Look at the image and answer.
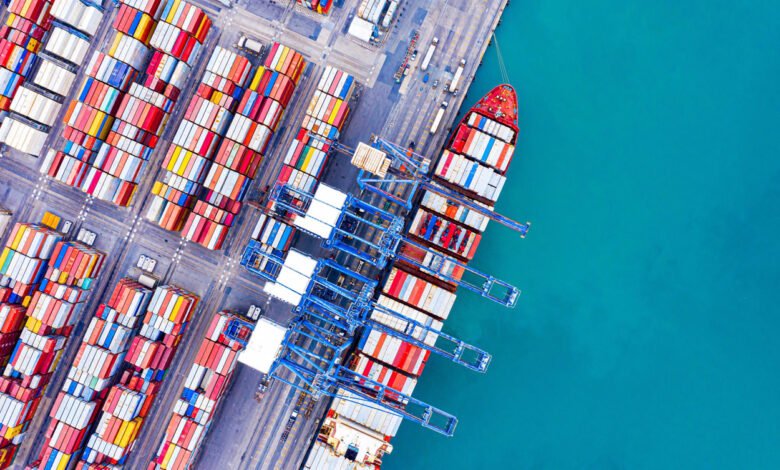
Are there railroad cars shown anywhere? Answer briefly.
No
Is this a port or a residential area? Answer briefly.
port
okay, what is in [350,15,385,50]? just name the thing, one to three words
shed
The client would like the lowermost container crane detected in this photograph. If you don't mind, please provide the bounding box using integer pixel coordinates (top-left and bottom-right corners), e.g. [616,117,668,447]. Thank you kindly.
[209,312,463,438]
